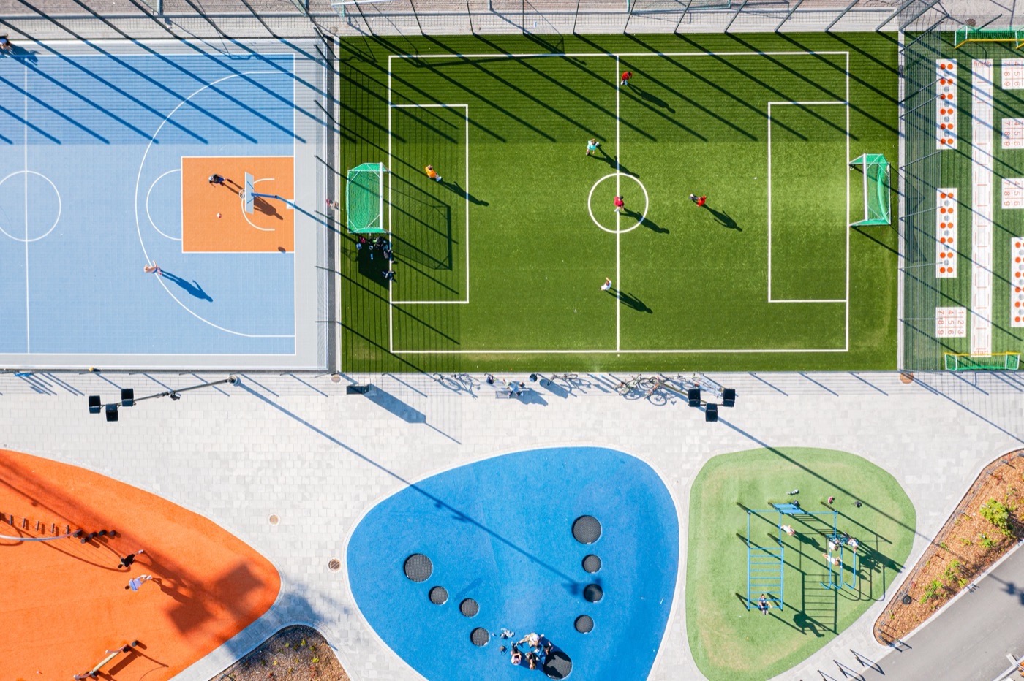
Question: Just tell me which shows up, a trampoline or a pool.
trampoline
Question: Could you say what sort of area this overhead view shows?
sports ground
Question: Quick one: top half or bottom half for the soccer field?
top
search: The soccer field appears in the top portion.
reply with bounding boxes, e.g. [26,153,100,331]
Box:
[340,31,899,372]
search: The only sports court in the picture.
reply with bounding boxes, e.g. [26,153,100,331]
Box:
[0,38,328,368]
